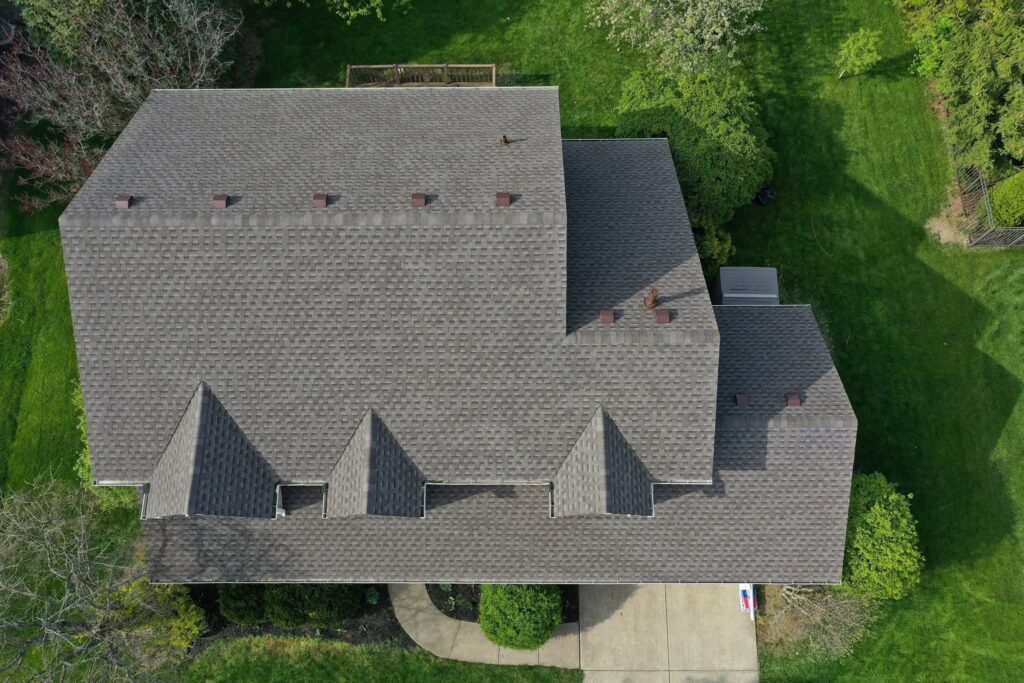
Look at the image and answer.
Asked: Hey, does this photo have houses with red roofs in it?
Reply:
No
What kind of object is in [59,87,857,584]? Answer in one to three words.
house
